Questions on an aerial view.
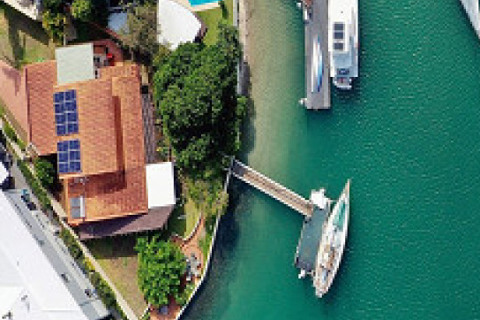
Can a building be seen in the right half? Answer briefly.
No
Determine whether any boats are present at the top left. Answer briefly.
No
